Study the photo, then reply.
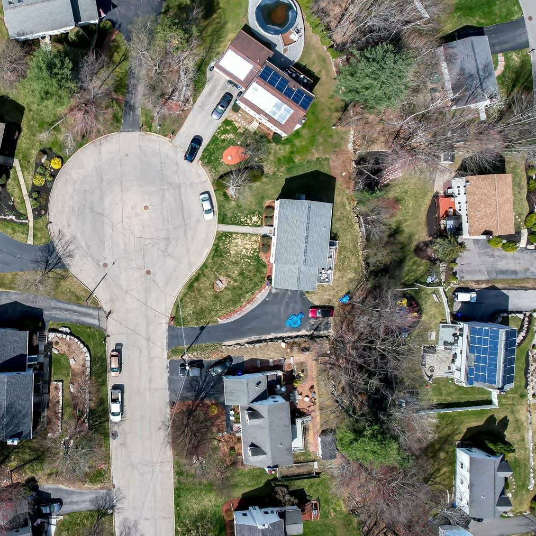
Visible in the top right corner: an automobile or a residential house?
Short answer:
residential house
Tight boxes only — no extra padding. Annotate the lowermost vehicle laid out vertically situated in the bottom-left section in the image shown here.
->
[110,387,124,420]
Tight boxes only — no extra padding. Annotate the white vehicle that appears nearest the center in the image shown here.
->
[199,191,214,221]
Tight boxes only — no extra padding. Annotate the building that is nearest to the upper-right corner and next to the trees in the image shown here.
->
[433,37,500,119]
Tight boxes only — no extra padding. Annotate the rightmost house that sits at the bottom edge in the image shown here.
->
[453,449,518,523]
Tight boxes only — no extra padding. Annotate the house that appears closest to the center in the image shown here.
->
[264,199,341,292]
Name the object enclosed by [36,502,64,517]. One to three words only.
car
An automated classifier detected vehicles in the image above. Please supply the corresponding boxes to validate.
[307,306,334,318]
[176,362,208,375]
[208,355,234,377]
[110,387,124,420]
[36,502,64,517]
[182,134,204,164]
[211,91,233,120]
[199,191,214,221]
[109,348,122,375]
[450,289,479,303]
